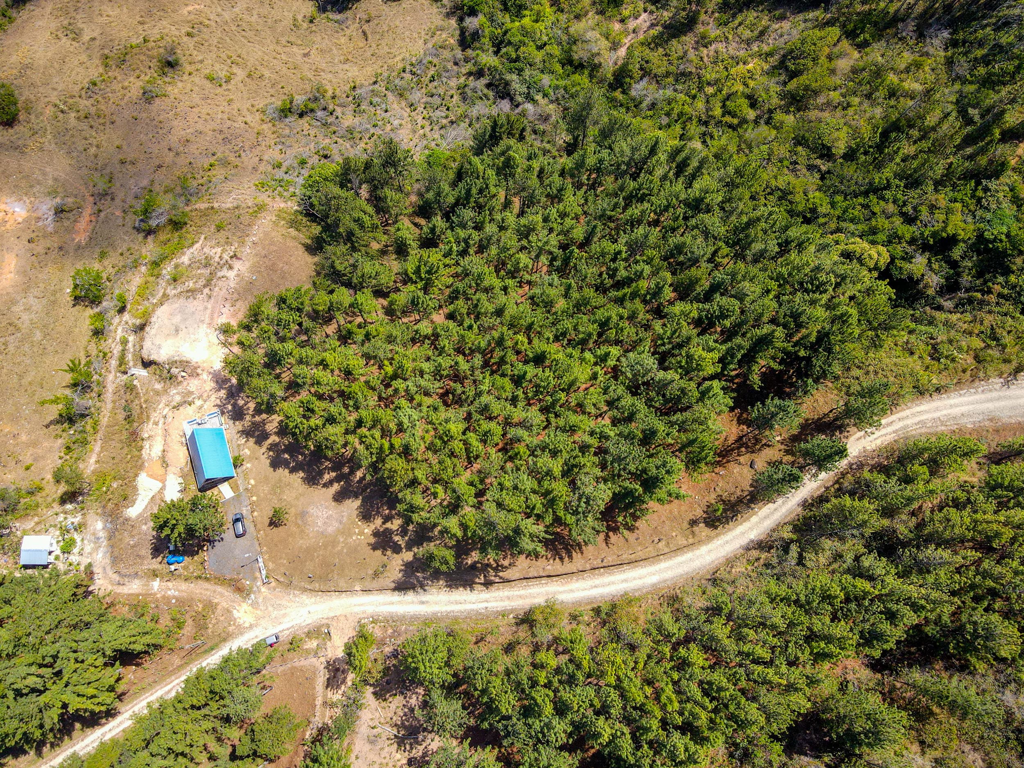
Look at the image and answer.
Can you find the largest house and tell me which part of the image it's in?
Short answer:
left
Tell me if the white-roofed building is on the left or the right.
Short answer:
left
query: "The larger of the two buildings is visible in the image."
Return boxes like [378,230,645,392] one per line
[175,409,236,492]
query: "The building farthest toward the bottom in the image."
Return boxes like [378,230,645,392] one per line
[17,535,58,565]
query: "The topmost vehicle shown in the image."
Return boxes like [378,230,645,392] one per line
[233,512,248,539]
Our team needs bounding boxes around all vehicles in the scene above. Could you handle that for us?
[233,512,248,539]
[259,632,283,648]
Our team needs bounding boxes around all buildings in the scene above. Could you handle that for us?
[175,409,236,492]
[17,535,58,565]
